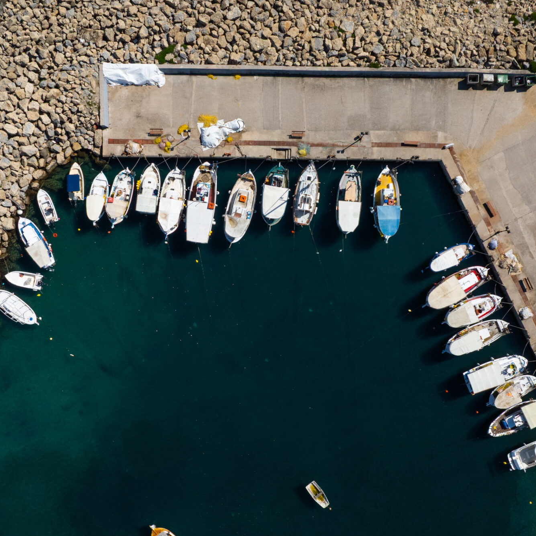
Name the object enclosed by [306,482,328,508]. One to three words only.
boat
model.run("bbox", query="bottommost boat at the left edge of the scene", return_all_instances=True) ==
[0,289,41,325]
